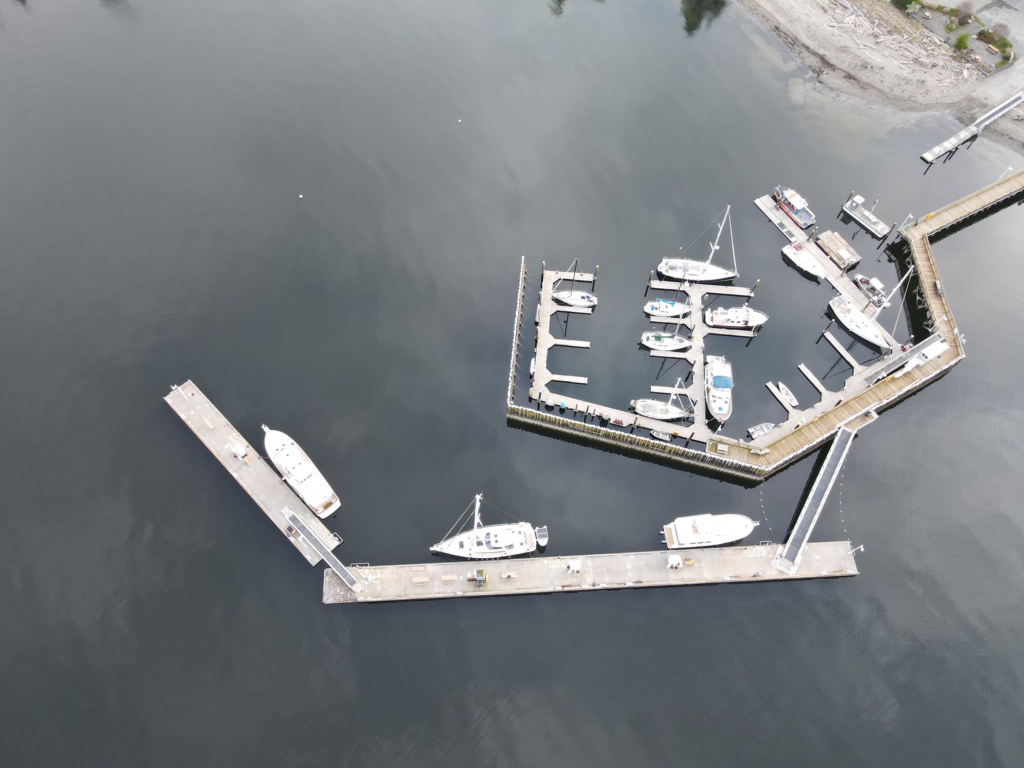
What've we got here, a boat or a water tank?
boat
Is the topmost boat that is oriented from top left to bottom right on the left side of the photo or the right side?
right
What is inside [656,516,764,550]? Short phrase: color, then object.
white boat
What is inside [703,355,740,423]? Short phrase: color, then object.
white boat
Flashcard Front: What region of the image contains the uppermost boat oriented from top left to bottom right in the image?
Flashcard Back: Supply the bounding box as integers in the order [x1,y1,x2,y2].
[775,183,818,230]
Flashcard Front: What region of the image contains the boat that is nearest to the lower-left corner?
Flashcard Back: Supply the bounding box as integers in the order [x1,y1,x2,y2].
[259,421,344,522]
